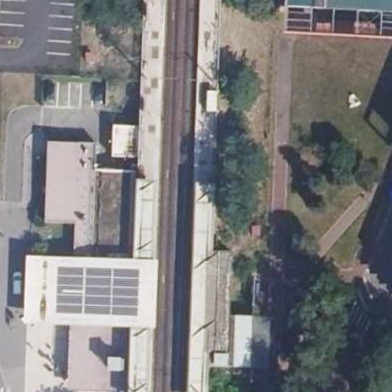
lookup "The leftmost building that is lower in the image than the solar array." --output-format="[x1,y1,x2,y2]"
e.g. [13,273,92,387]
[67,326,112,392]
